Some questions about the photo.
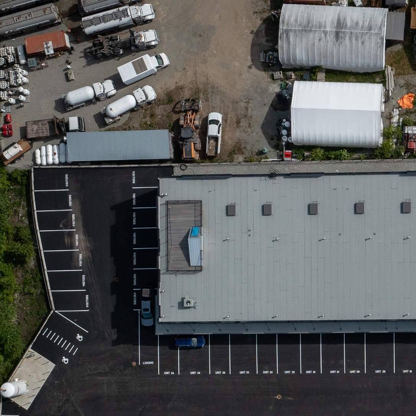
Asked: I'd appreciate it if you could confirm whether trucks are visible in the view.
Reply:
Yes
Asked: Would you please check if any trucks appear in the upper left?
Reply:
Yes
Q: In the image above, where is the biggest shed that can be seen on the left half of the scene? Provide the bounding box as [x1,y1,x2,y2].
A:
[67,130,176,165]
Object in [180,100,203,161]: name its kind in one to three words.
work vehicle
